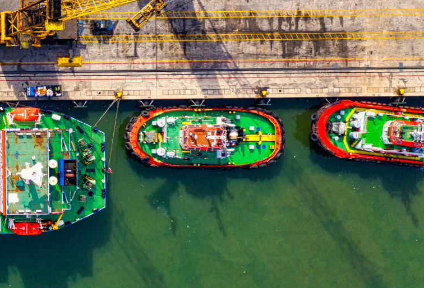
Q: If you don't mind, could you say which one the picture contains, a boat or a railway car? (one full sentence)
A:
This aerial view contains a boat.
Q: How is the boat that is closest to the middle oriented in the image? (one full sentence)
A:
Seen from above, the boat that is closest to the middle lies horizontally.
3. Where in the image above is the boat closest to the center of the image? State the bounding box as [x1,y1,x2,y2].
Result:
[122,104,284,171]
